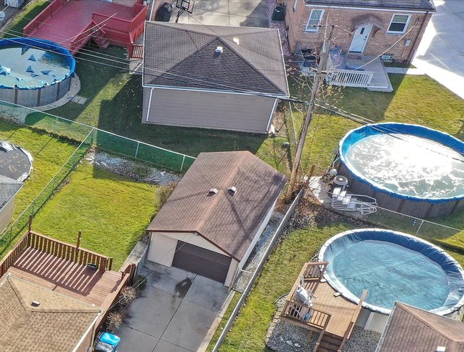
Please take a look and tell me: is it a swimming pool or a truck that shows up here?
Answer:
swimming pool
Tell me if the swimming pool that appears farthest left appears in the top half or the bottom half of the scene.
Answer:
top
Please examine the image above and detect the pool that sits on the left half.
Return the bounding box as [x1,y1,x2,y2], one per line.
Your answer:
[0,37,81,106]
